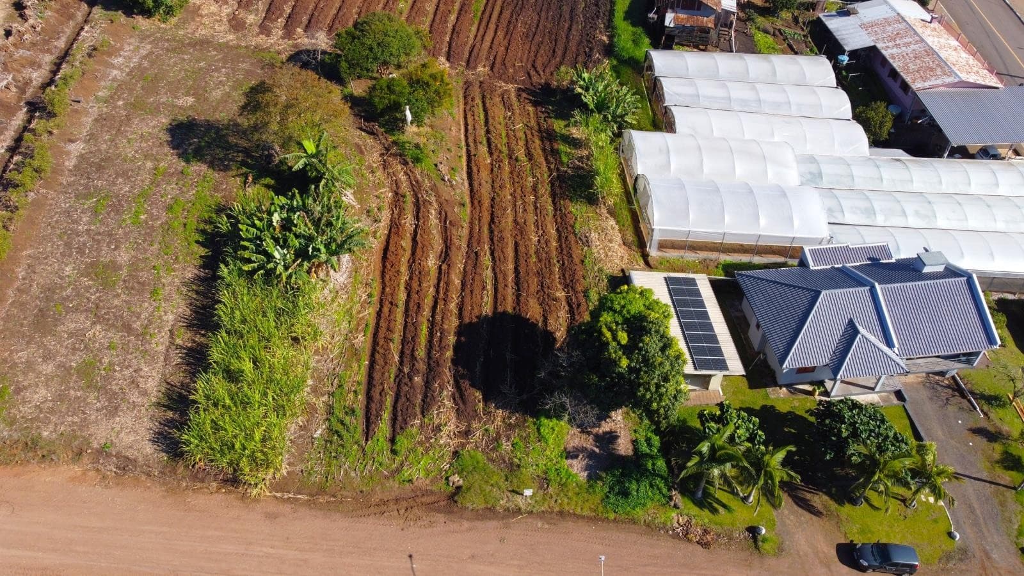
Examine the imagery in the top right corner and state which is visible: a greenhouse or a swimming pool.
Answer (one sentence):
The one visible in the top right corner is a greenhouse.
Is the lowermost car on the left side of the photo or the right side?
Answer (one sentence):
It is on the right.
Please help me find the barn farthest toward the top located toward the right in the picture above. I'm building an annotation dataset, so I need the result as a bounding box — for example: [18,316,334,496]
[648,0,738,45]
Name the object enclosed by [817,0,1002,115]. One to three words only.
house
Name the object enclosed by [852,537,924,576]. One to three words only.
car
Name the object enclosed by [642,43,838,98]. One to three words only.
greenhouse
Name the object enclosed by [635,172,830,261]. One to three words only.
greenhouse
